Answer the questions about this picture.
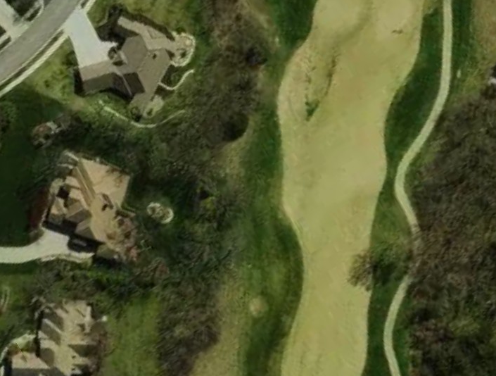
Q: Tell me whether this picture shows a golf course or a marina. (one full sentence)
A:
This image shows a golf course.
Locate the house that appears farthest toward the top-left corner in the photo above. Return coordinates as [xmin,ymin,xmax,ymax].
[78,12,180,118]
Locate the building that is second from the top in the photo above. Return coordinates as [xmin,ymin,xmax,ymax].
[47,155,132,258]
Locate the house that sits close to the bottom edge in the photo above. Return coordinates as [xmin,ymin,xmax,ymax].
[8,300,97,376]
